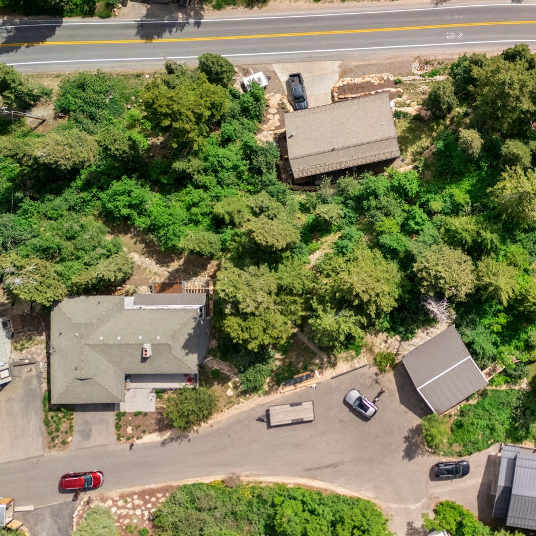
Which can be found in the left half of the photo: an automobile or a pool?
automobile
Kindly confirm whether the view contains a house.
Yes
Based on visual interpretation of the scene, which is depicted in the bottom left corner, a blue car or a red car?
red car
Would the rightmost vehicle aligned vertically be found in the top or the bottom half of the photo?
top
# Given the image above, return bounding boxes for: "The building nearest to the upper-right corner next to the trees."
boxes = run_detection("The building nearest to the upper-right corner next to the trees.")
[285,94,401,179]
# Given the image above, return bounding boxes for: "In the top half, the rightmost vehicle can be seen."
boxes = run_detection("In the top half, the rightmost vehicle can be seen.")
[288,74,307,110]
